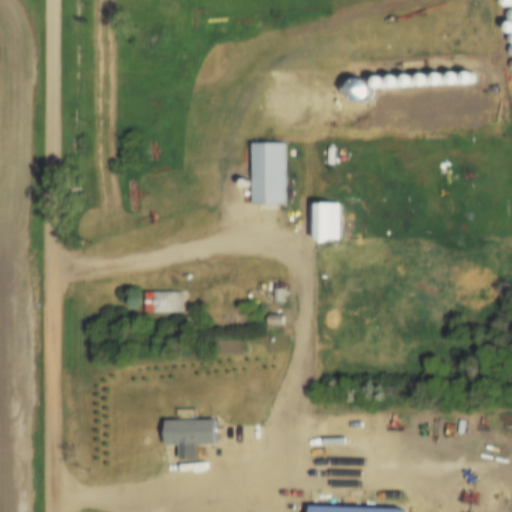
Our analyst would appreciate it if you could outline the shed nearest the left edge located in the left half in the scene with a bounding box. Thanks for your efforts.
[144,292,189,313]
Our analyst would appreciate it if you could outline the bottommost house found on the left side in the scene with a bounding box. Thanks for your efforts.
[162,410,218,459]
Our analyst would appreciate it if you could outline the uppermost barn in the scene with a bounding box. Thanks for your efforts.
[252,142,288,210]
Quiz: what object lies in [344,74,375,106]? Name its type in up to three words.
silo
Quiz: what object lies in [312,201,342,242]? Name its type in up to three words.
shed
